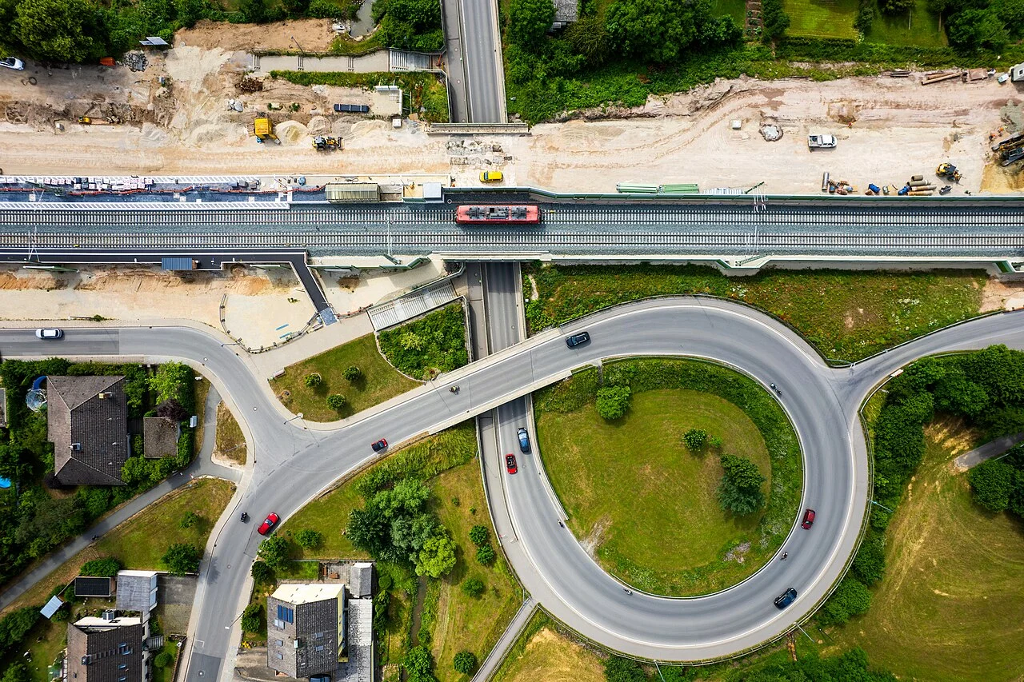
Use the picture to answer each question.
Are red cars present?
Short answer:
Yes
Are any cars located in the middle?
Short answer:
Yes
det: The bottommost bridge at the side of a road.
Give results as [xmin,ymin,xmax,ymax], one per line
[429,327,572,437]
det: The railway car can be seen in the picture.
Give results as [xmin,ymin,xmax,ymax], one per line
[455,206,540,224]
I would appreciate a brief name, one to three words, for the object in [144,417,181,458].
building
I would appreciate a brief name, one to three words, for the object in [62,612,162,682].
house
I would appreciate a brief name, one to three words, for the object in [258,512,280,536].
car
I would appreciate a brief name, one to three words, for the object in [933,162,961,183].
work vehicle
